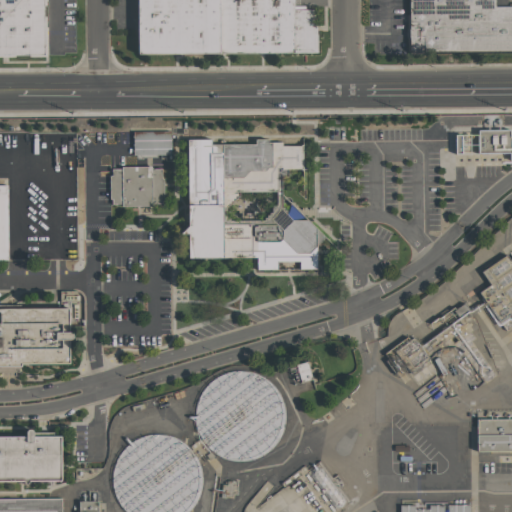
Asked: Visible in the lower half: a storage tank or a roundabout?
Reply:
storage tank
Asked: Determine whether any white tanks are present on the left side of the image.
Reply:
Yes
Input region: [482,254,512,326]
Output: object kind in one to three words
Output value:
building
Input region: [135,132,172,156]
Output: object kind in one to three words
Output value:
shed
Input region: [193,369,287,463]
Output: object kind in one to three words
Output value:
storage tank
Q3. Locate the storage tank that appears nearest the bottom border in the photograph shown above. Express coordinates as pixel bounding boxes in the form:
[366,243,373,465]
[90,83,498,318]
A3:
[111,432,206,512]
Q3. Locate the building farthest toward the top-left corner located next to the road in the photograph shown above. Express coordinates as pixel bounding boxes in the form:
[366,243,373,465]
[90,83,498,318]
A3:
[0,0,48,58]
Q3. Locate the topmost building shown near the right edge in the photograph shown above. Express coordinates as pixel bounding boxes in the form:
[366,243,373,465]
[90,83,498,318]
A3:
[411,0,512,52]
